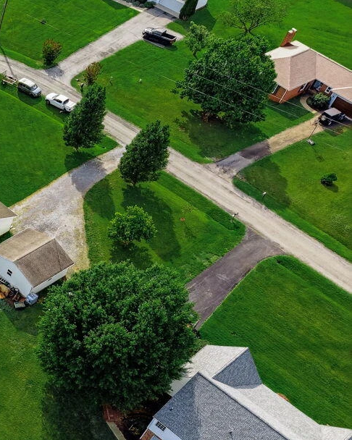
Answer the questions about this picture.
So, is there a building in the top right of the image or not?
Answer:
Yes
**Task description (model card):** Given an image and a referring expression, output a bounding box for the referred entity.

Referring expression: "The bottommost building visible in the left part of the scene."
[0,228,73,296]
